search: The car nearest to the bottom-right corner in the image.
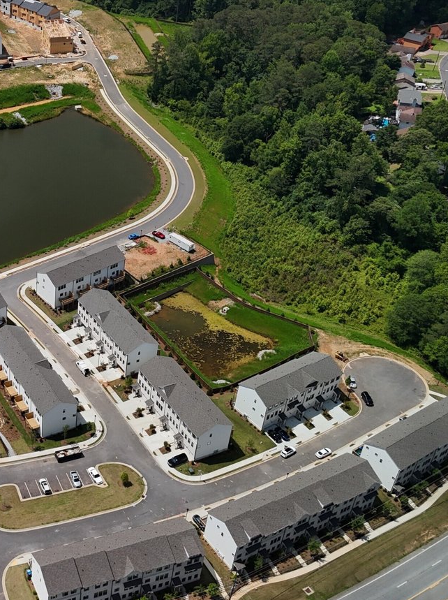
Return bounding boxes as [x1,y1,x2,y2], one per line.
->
[315,445,332,457]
